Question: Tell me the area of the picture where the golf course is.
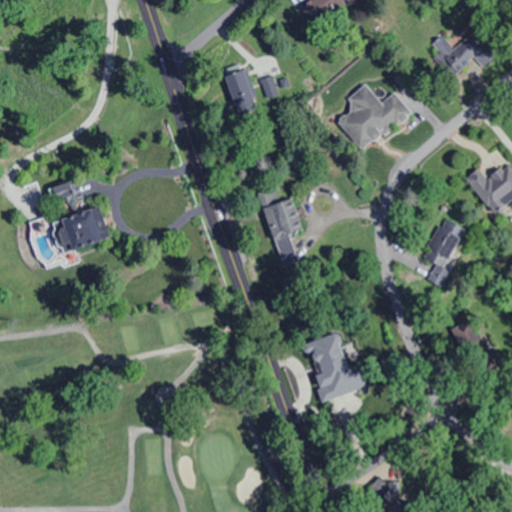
bottom left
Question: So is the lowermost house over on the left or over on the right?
right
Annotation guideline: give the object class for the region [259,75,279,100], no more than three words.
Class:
building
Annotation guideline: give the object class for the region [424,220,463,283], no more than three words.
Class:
house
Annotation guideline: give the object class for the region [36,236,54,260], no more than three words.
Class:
swimming pool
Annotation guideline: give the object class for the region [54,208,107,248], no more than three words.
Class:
house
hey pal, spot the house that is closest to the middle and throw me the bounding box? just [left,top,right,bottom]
[258,192,302,238]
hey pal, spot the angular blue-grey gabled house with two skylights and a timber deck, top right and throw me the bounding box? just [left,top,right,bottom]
[432,36,491,75]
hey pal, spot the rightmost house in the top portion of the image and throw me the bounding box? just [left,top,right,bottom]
[464,165,512,212]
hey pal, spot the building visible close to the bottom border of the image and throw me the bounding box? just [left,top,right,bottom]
[370,477,404,512]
